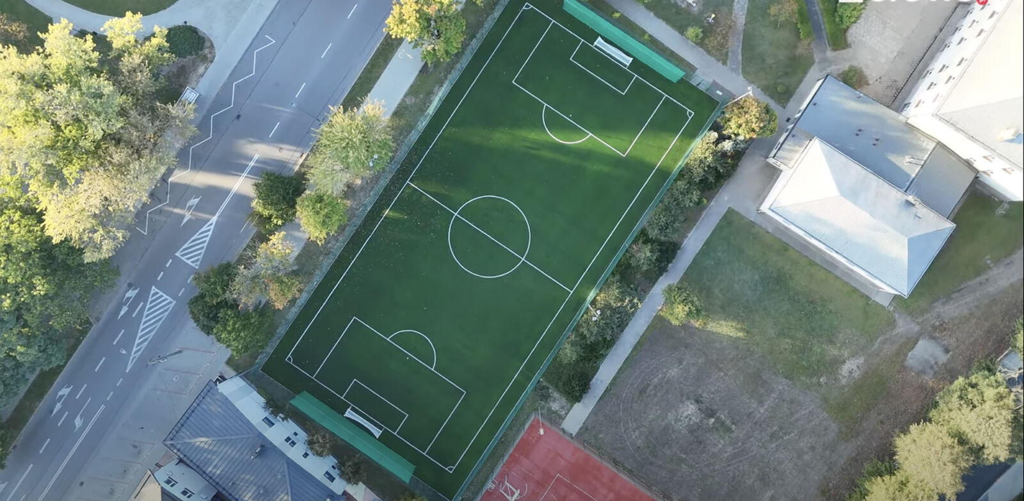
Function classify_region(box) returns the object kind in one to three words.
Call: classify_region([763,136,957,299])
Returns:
building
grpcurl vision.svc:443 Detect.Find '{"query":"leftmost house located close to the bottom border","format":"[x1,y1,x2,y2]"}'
[124,456,224,501]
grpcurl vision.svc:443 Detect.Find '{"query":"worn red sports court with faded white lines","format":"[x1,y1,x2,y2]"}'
[471,406,668,501]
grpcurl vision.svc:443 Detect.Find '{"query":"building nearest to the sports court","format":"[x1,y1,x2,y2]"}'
[162,371,361,501]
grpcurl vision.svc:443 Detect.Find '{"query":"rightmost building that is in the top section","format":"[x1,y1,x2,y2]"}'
[907,0,1024,198]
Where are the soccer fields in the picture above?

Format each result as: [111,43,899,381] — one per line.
[261,0,719,499]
